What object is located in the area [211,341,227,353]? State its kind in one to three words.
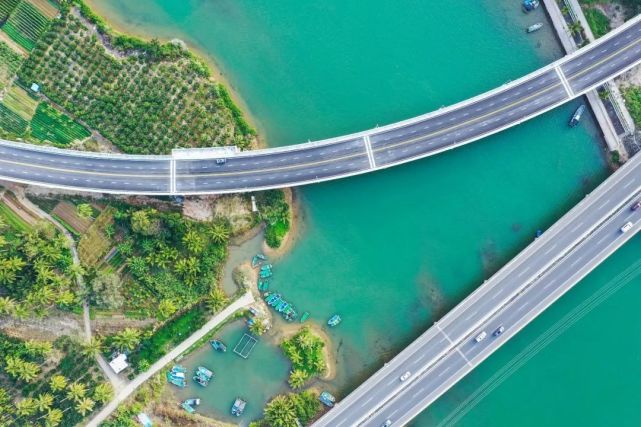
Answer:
boat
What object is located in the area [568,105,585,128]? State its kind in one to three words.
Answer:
boat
